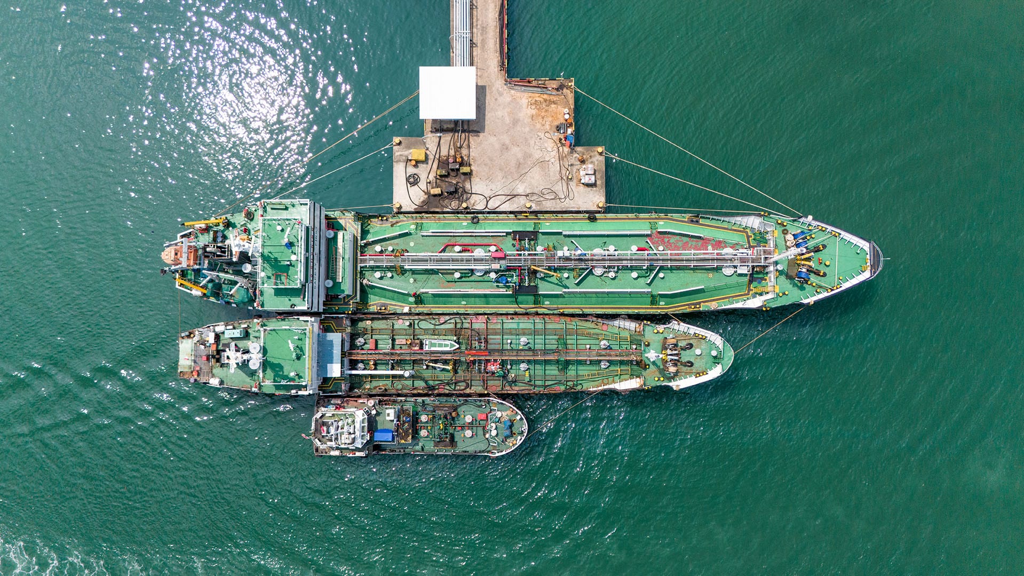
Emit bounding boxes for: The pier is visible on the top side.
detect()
[393,0,605,216]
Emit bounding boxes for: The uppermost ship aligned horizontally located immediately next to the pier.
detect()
[159,198,890,315]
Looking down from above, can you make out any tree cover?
No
